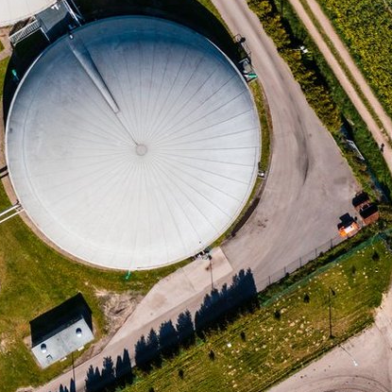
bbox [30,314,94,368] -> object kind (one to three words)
shed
